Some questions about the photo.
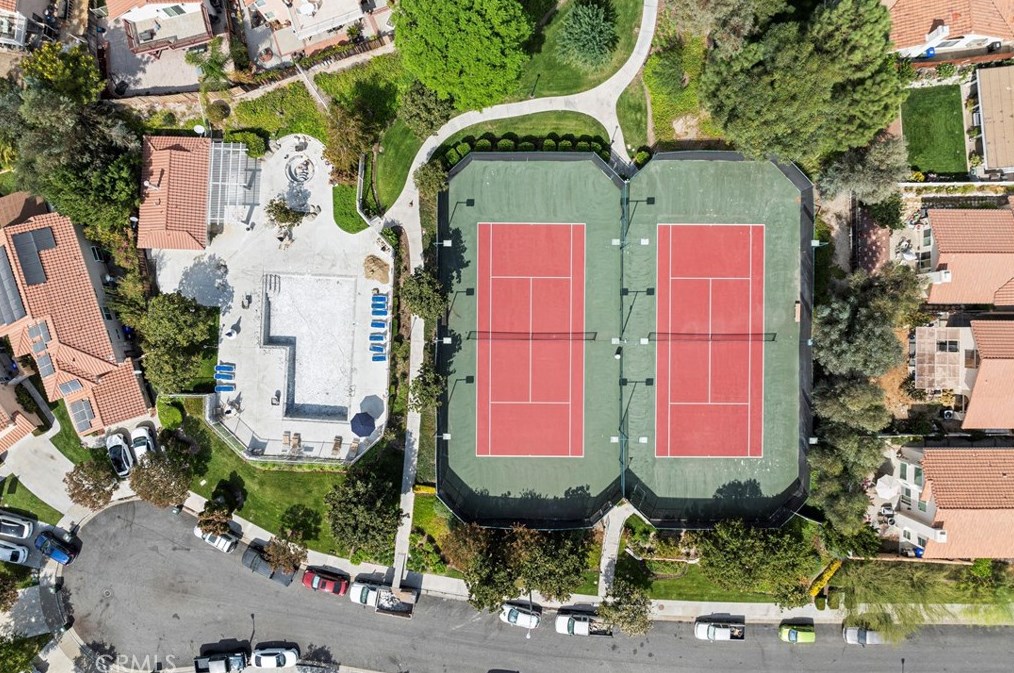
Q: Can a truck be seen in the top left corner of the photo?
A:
No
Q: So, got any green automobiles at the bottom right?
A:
Yes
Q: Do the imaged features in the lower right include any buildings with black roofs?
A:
No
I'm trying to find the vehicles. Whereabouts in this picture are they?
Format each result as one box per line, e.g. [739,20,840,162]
[251,644,300,670]
[497,602,543,628]
[840,623,890,647]
[239,547,299,589]
[692,618,746,643]
[0,539,30,565]
[301,567,352,595]
[777,622,816,645]
[131,428,157,474]
[105,432,136,480]
[193,650,251,673]
[555,611,613,637]
[190,522,243,558]
[33,529,79,567]
[350,582,417,618]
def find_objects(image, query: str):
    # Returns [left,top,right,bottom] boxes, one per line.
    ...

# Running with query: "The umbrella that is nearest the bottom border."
[872,474,897,498]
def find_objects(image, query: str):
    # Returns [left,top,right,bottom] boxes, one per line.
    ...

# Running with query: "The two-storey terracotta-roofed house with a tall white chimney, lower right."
[893,442,1014,558]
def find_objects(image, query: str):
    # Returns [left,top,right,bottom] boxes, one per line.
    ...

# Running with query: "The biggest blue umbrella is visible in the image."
[352,412,376,435]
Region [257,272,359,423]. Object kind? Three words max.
swimming pool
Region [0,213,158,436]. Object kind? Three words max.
house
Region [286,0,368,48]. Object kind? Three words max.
house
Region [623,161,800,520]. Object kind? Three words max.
tennis court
